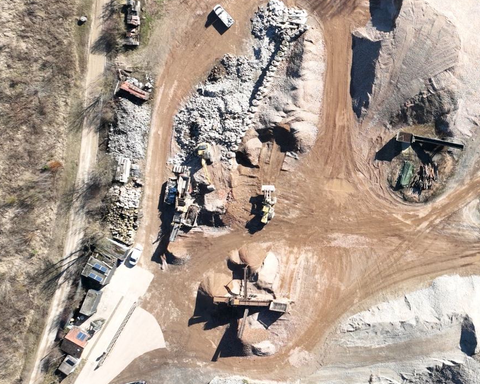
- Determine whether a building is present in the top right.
No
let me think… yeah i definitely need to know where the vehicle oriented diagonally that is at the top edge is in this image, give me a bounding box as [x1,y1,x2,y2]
[212,4,236,28]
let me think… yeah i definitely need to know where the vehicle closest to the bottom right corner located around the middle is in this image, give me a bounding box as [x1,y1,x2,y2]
[259,183,277,222]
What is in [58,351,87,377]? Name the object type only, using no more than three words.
building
